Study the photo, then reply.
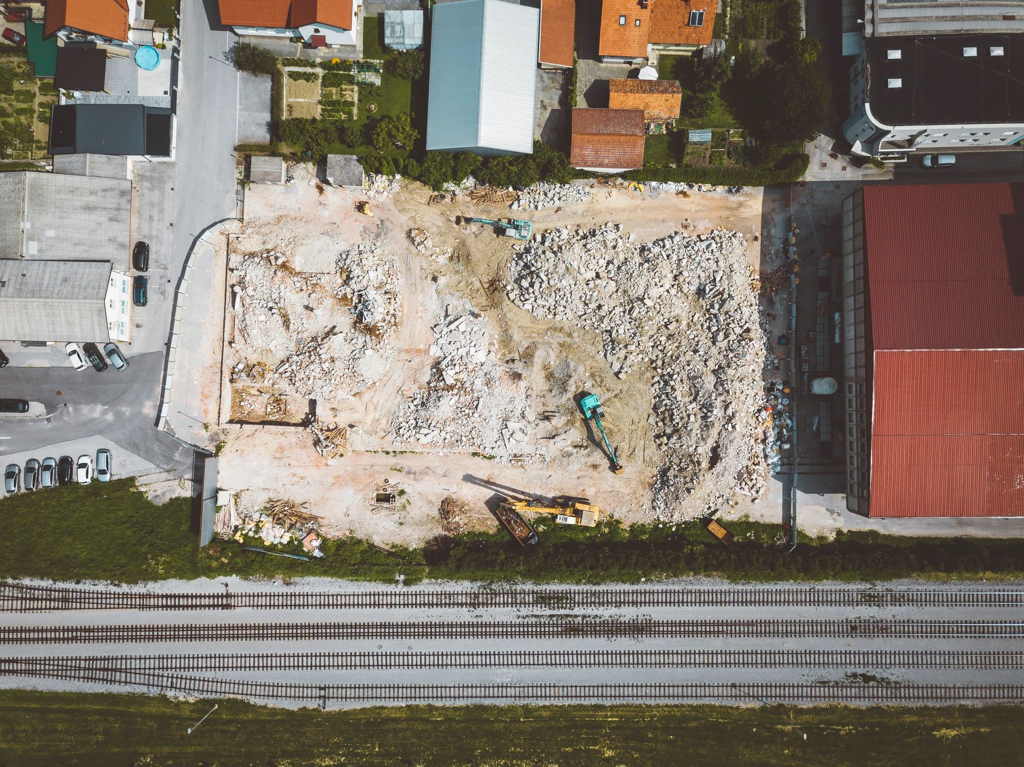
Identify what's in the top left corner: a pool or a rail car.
pool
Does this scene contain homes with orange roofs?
Yes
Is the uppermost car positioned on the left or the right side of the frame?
left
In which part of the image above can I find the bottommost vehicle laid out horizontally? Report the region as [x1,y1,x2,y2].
[502,503,602,528]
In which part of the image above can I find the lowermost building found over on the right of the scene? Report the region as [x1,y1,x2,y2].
[844,183,1024,519]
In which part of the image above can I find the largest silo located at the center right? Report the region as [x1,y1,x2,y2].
[807,376,837,394]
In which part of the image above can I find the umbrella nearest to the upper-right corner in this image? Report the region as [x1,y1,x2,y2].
[638,65,657,80]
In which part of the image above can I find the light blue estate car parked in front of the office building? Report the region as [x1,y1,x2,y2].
[921,153,956,169]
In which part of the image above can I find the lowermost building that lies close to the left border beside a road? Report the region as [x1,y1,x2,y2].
[0,261,133,346]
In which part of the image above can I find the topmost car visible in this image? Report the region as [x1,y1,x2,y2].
[0,25,27,49]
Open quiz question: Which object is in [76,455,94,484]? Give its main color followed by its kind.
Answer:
white car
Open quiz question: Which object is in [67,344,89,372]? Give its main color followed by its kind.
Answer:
white car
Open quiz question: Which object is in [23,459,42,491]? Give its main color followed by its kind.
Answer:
gray car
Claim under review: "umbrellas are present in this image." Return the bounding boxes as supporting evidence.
[638,65,657,80]
[74,92,86,101]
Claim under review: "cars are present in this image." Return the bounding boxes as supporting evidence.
[106,344,129,372]
[40,458,59,488]
[4,464,23,493]
[57,456,75,486]
[76,455,94,484]
[67,344,89,372]
[132,241,150,272]
[95,449,113,481]
[0,25,27,49]
[0,344,11,373]
[23,459,42,491]
[131,276,149,306]
[0,399,31,414]
[85,344,108,373]
[921,153,956,169]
